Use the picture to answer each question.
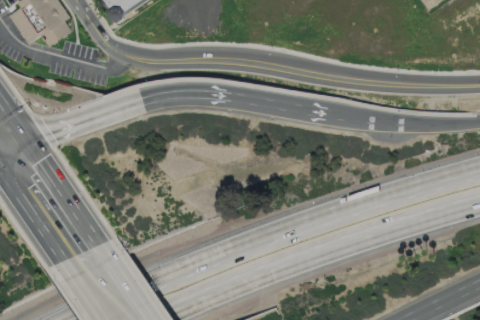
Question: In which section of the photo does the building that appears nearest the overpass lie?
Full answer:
The building that appears nearest the overpass is in the top left part of the image.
